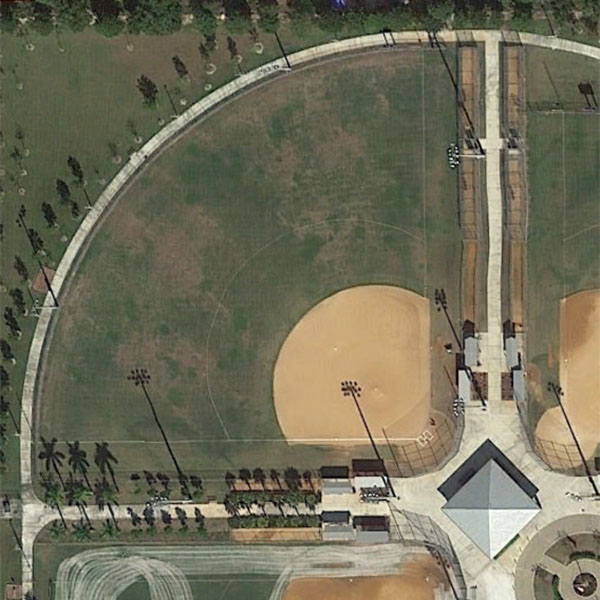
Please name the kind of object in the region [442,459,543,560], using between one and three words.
building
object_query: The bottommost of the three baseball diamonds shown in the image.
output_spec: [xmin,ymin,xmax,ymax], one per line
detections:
[36,544,463,600]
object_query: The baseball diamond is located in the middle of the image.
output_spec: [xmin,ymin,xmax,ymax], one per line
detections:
[36,48,464,482]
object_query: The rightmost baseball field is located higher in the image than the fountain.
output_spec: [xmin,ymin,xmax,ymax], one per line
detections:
[526,112,600,473]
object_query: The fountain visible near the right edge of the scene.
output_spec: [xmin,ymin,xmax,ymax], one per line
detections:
[572,572,596,597]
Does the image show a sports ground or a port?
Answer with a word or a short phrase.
sports ground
